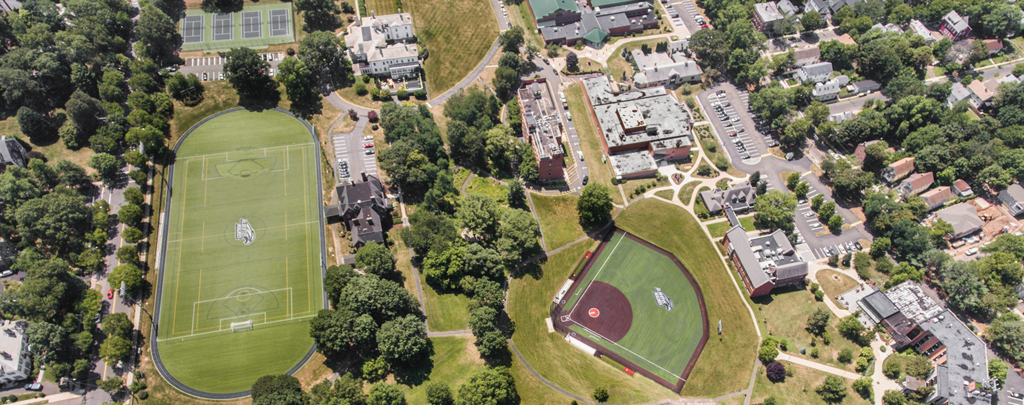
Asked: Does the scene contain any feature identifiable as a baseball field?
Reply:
Yes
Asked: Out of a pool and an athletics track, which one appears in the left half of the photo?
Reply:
athletics track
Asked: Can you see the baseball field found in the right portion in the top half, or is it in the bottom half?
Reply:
bottom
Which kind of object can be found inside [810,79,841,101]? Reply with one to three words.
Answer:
house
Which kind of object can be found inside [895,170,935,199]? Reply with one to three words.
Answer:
house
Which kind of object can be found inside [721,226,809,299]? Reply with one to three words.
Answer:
building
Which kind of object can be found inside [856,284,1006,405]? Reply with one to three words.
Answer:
building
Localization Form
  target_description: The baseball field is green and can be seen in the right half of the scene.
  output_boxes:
[552,227,710,393]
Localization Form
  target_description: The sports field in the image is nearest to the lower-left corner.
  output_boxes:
[157,109,319,392]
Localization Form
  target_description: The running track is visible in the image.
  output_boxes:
[149,105,327,399]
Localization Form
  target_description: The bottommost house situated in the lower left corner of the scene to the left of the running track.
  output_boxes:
[0,318,41,385]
